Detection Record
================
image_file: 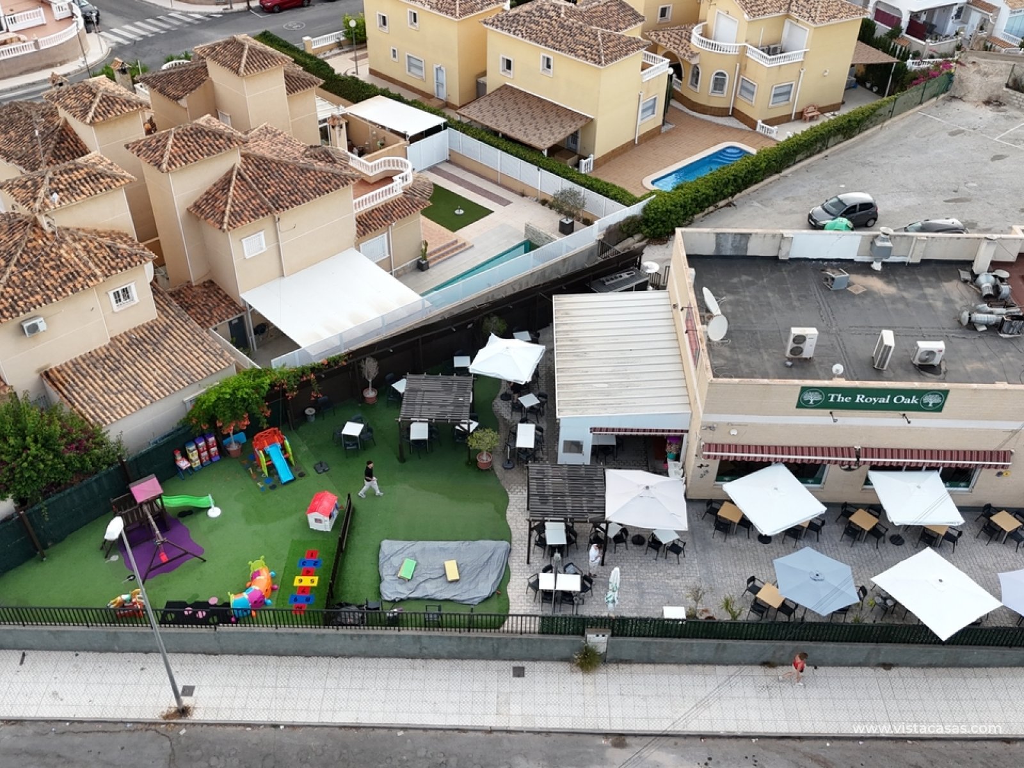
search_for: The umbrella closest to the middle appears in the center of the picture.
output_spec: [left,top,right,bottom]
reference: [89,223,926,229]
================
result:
[469,333,545,401]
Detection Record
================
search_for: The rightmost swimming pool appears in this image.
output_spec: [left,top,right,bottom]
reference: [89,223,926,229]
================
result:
[644,139,754,195]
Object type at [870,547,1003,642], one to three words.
umbrella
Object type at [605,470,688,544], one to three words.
umbrella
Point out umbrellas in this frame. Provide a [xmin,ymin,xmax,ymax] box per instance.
[601,567,621,619]
[773,547,858,623]
[997,555,1024,626]
[605,470,688,544]
[870,547,1003,642]
[469,333,545,401]
[722,464,827,546]
[868,471,964,547]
